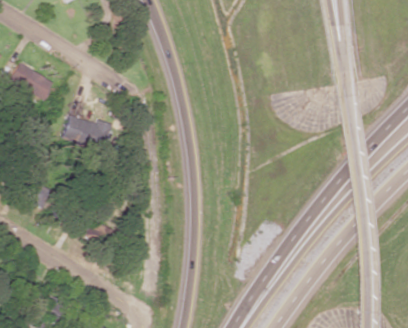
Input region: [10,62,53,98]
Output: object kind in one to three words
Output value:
house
